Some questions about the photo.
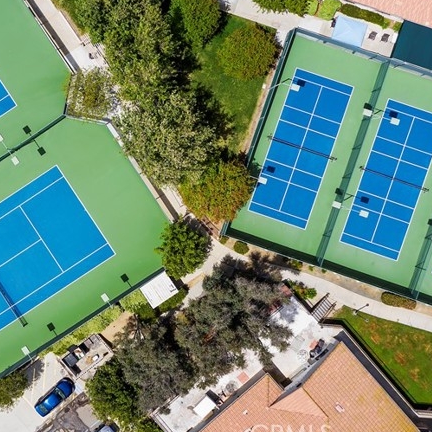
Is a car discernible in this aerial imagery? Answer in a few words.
Yes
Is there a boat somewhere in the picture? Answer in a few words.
No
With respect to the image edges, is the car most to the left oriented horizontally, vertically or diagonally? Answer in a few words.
diagonally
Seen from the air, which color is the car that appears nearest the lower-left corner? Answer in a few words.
blue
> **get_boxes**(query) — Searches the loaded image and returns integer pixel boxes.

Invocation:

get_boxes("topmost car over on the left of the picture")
[34,378,77,416]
